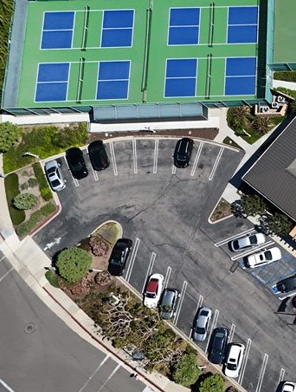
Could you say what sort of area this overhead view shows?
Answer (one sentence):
What you see here is a sports ground.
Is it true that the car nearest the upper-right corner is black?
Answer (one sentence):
Yes, black is the color of the car nearest the upper-right corner.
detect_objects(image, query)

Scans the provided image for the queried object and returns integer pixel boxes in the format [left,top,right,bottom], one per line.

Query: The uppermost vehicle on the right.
[174,137,195,170]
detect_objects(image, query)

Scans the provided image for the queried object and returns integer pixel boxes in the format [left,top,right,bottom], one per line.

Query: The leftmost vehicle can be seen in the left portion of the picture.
[47,159,68,193]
